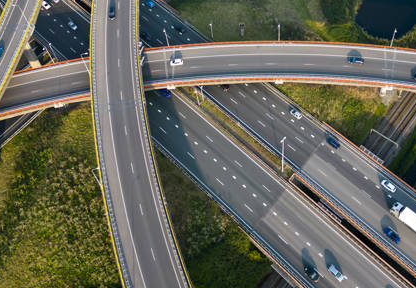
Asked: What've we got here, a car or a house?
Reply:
car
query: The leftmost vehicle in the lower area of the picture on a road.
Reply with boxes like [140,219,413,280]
[302,265,319,281]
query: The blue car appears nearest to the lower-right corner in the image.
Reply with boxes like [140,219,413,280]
[382,227,400,243]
